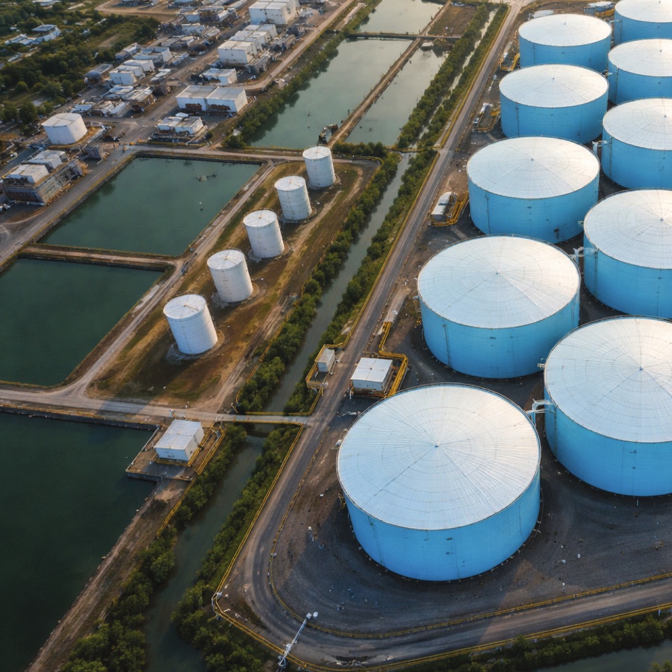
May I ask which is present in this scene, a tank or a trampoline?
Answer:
tank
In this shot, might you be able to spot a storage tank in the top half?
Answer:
Yes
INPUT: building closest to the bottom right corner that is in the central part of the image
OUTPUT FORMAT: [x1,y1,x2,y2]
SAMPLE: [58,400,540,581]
[348,357,395,397]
